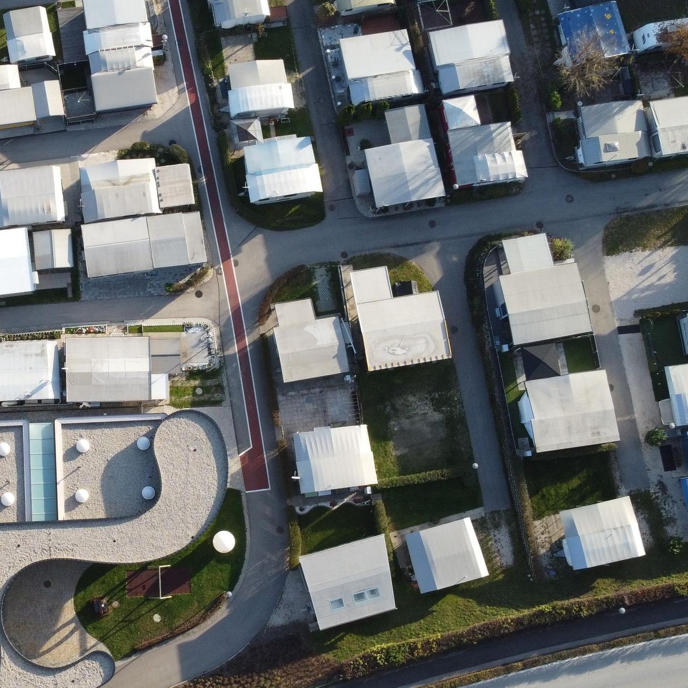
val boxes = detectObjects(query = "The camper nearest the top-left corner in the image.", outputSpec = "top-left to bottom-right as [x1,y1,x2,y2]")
[5,8,55,69]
